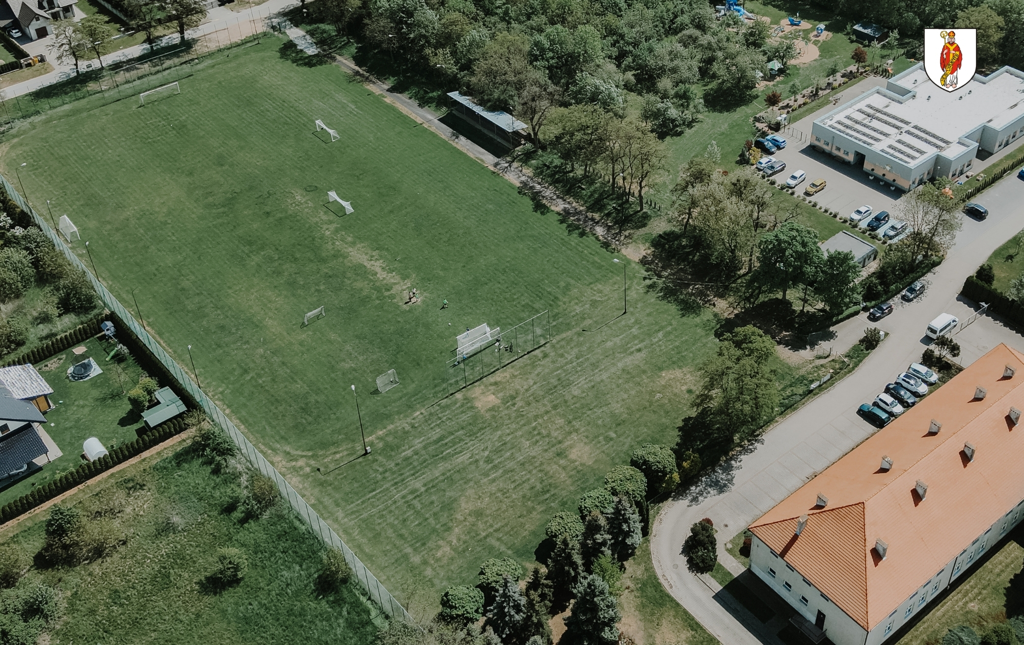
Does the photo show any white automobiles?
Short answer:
Yes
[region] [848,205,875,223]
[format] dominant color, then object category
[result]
white car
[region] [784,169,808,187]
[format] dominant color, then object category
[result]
white car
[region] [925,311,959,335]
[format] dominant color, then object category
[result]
white vehicle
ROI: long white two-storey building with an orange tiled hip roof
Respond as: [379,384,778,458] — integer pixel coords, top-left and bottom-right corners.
[749,341,1024,645]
